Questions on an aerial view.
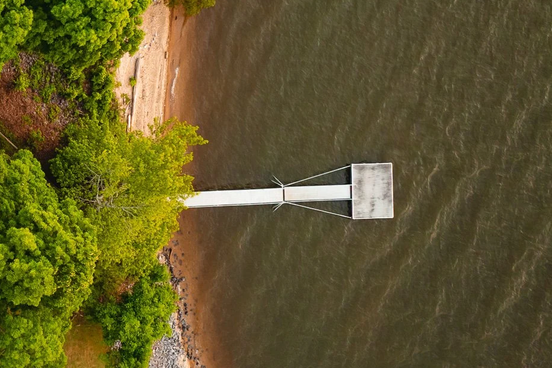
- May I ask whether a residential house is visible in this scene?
No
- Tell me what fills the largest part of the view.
water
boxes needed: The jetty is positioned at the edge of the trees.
[184,161,394,220]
